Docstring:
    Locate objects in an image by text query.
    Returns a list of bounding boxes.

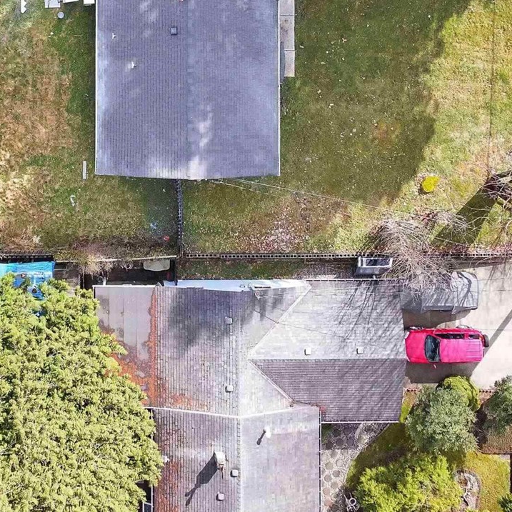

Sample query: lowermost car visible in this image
[406,329,495,374]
